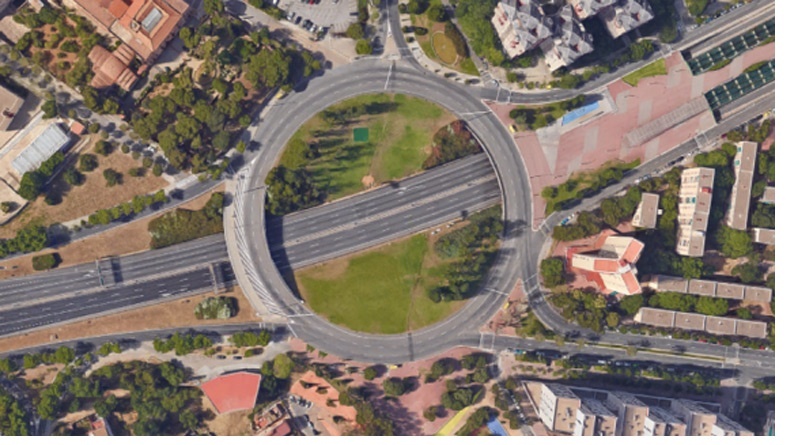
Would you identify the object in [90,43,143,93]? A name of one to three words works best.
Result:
building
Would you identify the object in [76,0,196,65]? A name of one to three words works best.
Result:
building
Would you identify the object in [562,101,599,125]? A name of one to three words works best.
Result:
swimming pool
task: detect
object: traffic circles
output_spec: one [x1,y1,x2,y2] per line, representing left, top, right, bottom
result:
[245,58,534,366]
